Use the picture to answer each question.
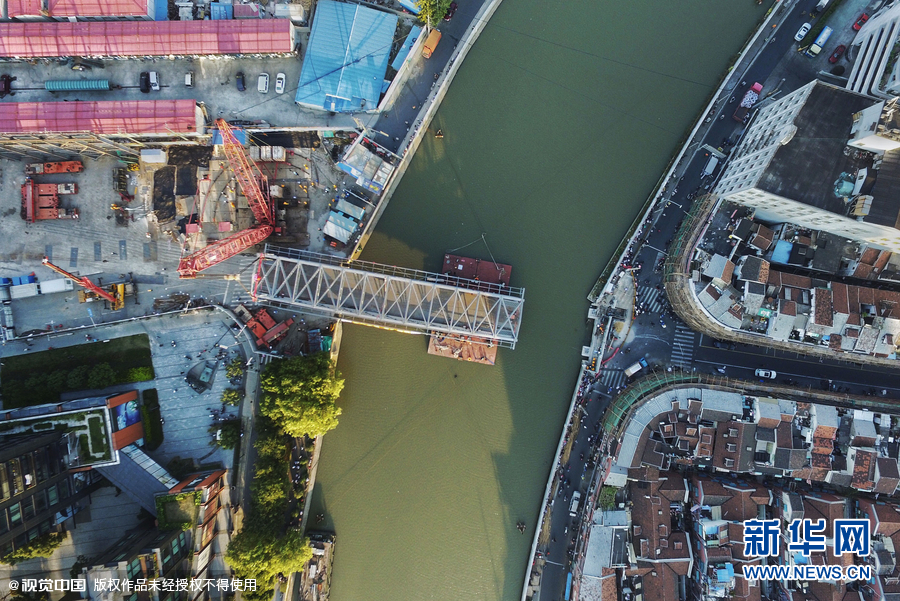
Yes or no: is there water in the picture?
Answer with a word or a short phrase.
Yes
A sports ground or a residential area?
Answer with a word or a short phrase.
residential area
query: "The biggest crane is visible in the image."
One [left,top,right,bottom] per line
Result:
[171,114,294,281]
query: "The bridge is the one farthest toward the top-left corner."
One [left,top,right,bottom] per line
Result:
[256,248,527,348]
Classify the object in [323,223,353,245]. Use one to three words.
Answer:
building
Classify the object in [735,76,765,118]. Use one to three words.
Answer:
truck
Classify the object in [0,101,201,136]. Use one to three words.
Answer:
shed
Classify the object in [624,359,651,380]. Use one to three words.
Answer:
vehicle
